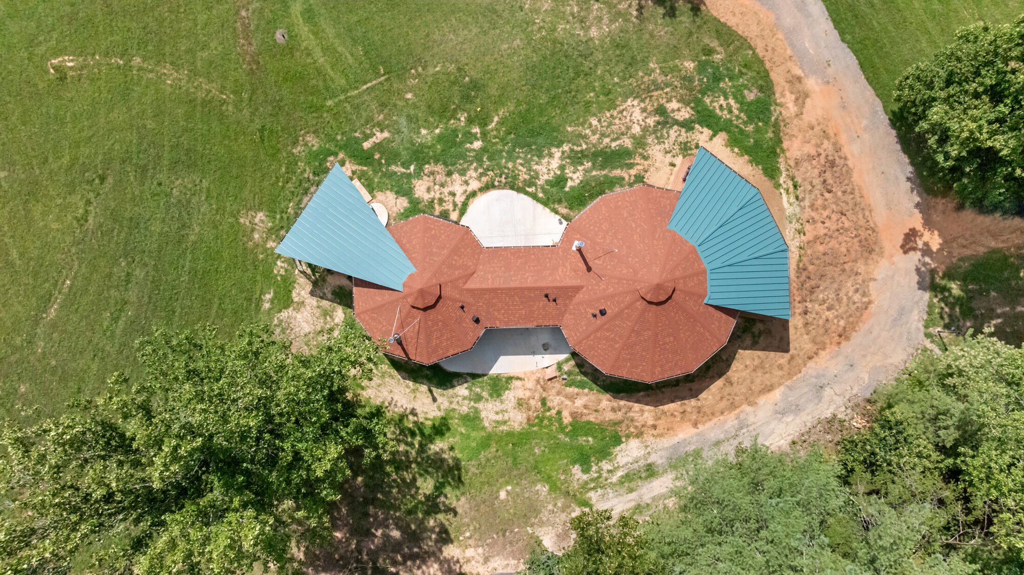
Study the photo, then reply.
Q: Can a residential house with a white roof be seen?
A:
No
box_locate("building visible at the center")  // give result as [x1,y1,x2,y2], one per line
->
[275,146,794,385]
